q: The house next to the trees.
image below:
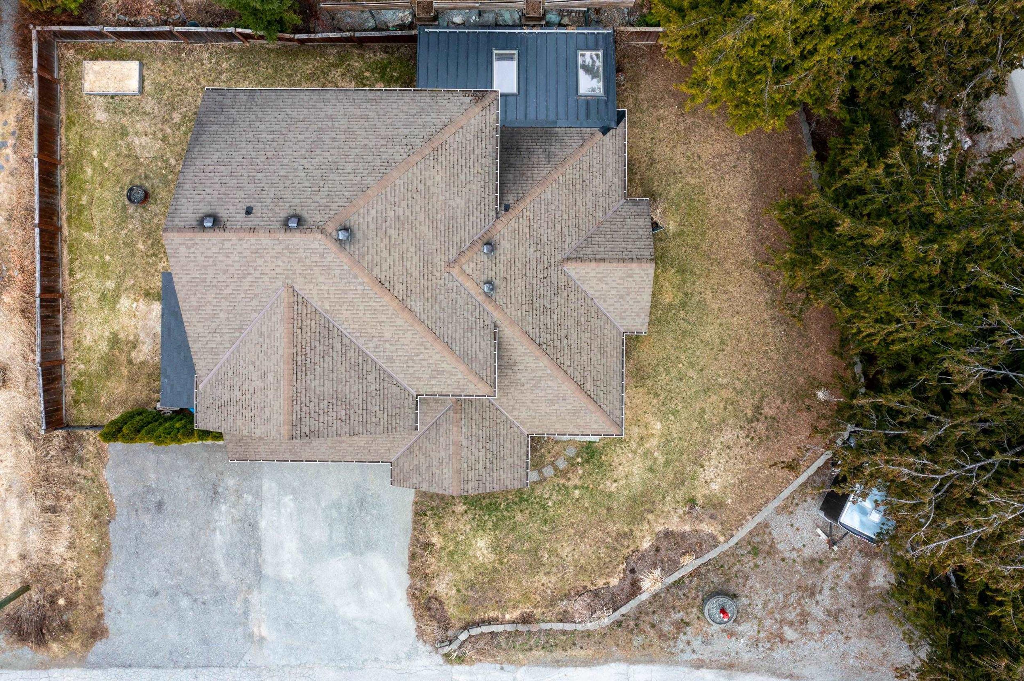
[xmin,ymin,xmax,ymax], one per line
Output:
[161,26,656,496]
